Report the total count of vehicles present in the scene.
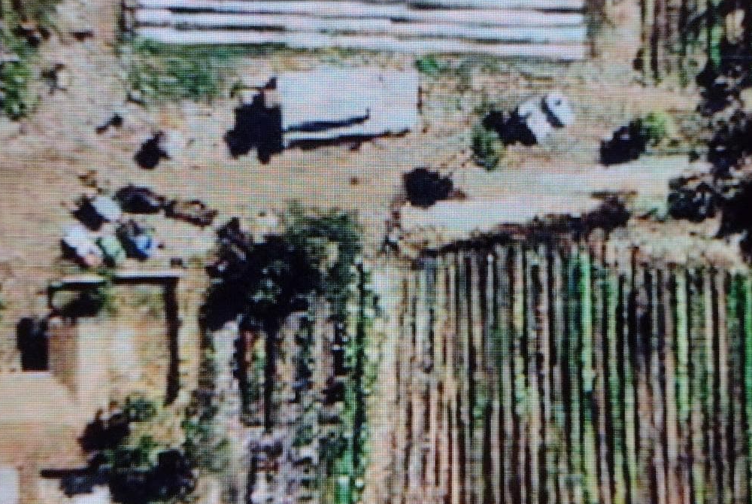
seven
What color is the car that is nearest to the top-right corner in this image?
white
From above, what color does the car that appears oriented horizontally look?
black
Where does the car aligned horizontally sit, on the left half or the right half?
left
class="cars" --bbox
[121,223,156,261]
[518,94,555,142]
[86,190,123,226]
[115,187,160,211]
[543,88,572,126]
[96,233,126,269]
[59,223,96,261]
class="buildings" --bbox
[281,69,418,148]
[0,320,109,504]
